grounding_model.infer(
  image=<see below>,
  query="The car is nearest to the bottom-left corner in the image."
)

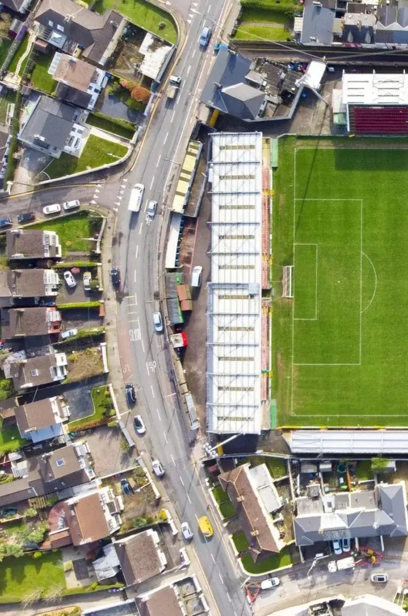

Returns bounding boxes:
[121,478,133,495]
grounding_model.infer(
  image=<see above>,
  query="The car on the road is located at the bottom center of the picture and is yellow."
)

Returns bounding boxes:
[199,517,213,536]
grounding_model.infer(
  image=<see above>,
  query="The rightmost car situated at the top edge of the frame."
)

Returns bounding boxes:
[200,26,212,46]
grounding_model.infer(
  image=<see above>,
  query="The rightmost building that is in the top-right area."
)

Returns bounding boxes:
[373,0,408,53]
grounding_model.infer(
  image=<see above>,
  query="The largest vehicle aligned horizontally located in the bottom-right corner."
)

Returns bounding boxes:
[327,556,357,573]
